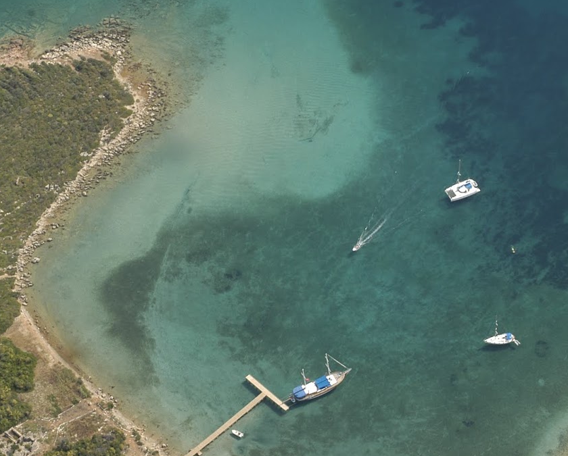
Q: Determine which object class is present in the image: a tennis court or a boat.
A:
boat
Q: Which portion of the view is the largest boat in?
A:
bottom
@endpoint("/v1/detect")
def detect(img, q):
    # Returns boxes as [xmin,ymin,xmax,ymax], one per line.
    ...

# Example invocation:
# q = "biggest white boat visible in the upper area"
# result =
[446,160,481,203]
